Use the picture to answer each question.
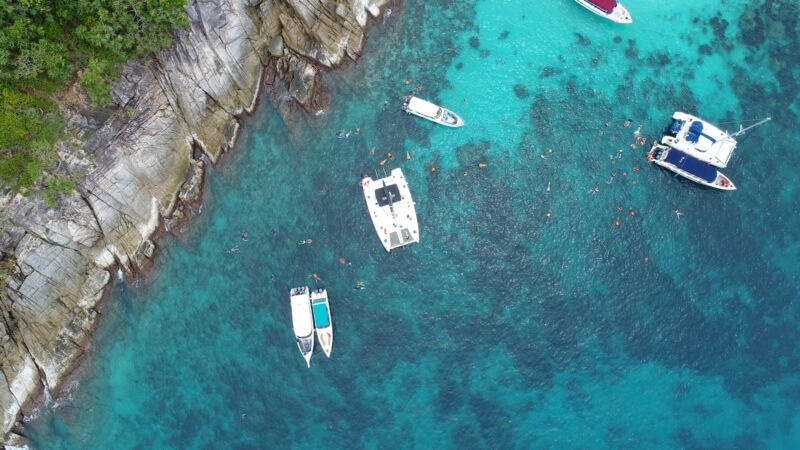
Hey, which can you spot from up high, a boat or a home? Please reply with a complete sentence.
The image shows a boat.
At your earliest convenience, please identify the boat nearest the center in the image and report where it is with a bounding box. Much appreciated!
[363,169,419,250]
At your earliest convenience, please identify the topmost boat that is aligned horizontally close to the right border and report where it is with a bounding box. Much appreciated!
[659,112,770,166]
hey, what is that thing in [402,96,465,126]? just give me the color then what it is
white boat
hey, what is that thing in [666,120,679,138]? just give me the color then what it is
blue boat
